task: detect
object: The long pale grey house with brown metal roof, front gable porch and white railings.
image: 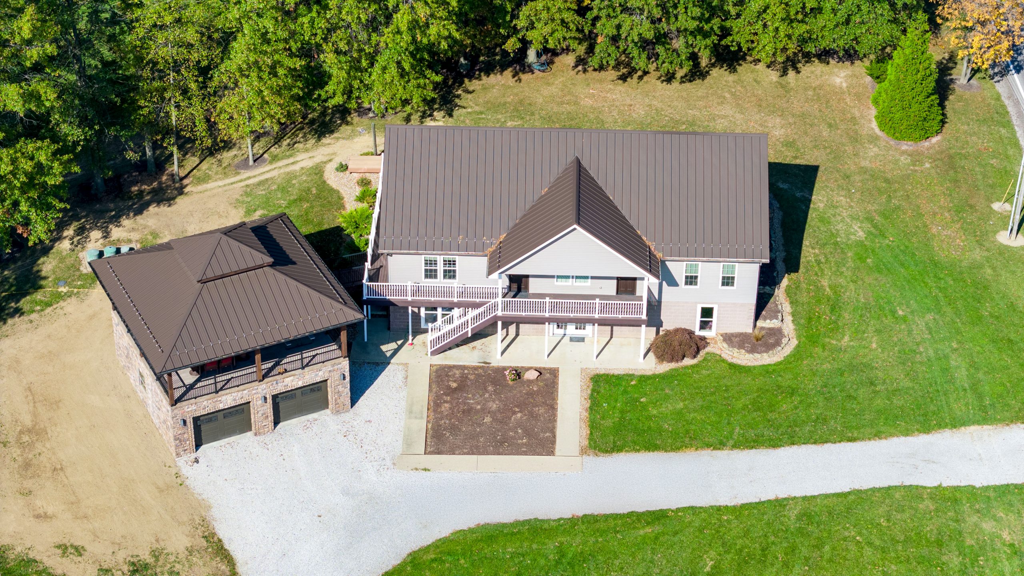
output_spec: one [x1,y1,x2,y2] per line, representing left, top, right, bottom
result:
[362,124,769,361]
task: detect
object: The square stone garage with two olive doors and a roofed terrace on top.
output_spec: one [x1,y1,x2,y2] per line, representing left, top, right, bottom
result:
[85,211,369,460]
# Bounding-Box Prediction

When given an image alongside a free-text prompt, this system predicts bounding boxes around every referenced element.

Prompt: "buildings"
[362,124,769,361]
[85,211,369,460]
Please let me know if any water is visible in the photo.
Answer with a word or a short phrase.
No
